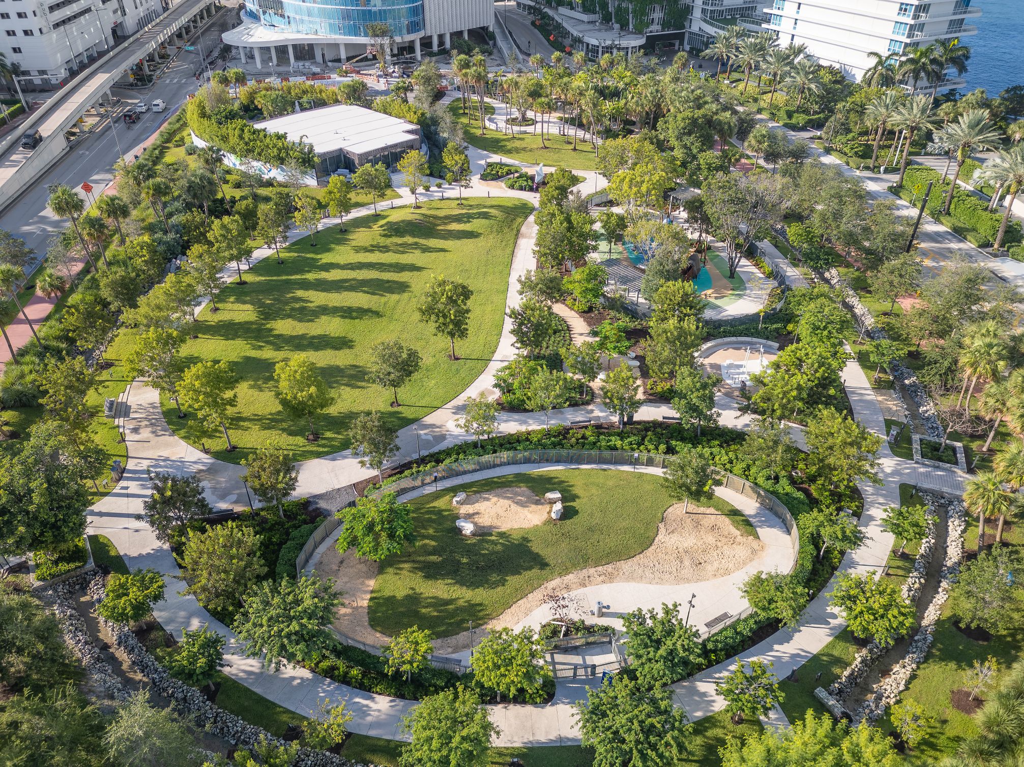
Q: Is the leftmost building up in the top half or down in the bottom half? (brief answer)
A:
top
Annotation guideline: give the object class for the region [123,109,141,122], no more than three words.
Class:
vehicle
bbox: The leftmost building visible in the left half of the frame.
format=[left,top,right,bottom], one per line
[0,0,160,86]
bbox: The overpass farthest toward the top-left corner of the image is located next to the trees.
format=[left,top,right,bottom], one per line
[0,0,232,217]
